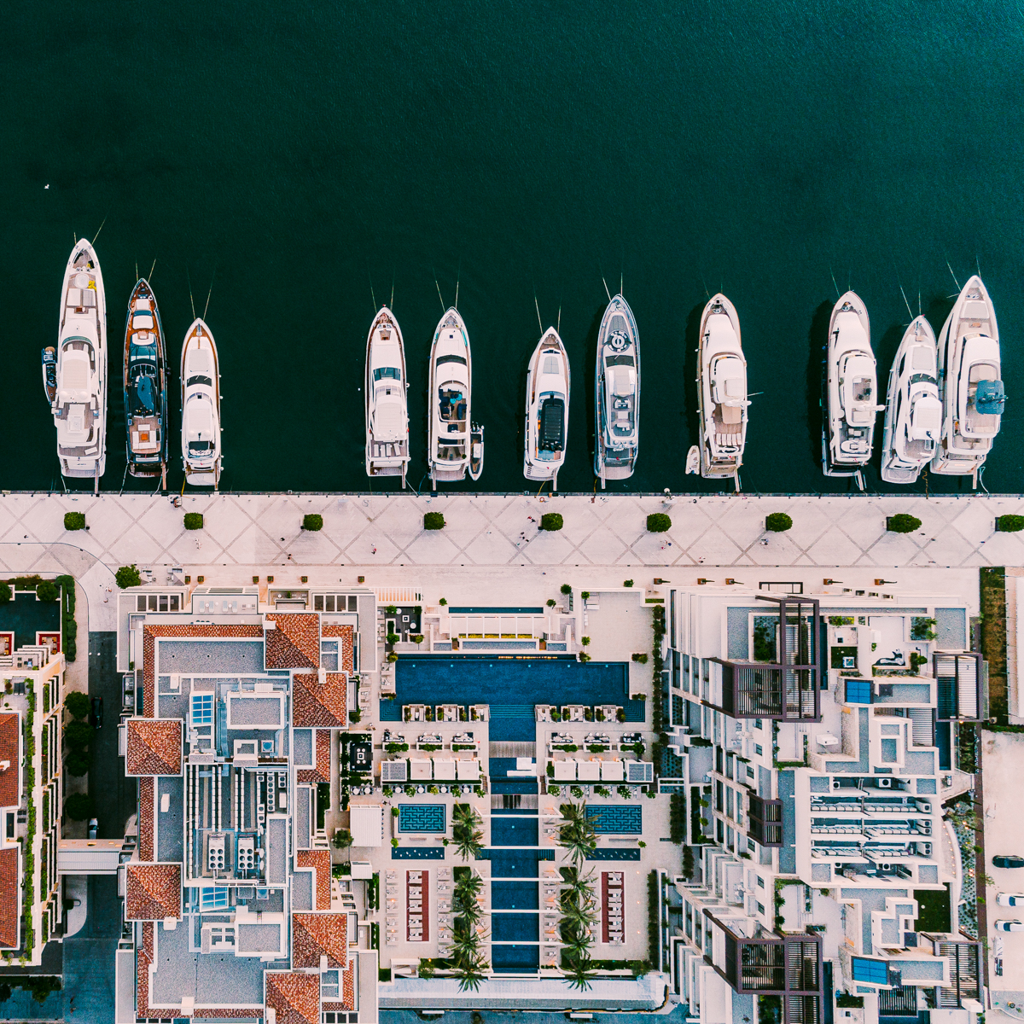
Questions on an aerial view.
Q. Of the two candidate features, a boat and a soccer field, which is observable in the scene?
boat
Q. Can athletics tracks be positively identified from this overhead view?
No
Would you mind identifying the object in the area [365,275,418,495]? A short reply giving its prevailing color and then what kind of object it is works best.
white boat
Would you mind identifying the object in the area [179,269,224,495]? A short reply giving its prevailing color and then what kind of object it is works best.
white boat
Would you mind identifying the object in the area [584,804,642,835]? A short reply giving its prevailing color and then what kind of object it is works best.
blue swimming pool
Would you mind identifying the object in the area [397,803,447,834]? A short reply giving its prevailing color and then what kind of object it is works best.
blue swimming pool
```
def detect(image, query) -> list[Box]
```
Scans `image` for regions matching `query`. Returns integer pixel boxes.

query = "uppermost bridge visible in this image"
[488,741,537,758]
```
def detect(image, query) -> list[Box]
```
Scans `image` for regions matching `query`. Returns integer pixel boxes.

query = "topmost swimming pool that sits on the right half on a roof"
[811,616,828,689]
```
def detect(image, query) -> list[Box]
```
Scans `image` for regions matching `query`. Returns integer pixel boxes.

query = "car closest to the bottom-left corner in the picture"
[86,819,100,841]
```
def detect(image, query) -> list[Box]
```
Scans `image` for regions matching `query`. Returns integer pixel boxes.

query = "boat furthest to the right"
[923,260,1008,494]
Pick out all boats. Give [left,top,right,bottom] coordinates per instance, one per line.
[51,216,108,495]
[878,287,943,496]
[814,272,889,495]
[695,280,763,495]
[591,278,642,494]
[685,445,700,475]
[365,275,418,495]
[42,346,58,405]
[418,280,472,495]
[470,425,484,481]
[923,260,1008,494]
[517,299,571,495]
[119,263,171,495]
[179,269,224,495]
